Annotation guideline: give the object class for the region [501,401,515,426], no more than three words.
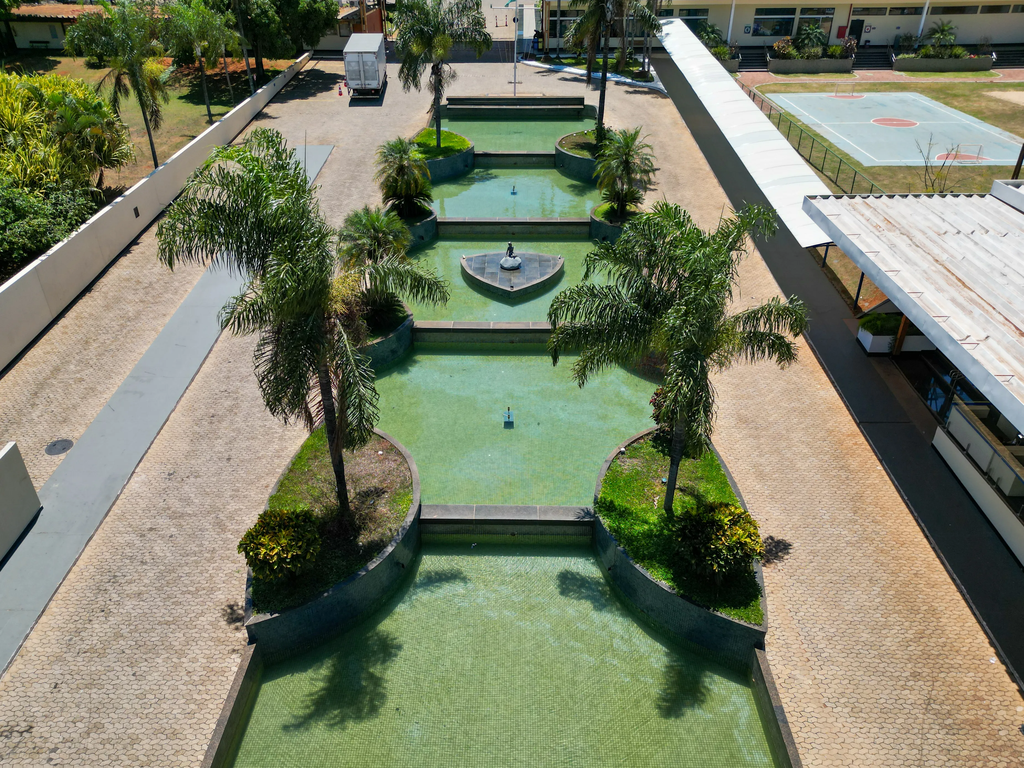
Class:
fountain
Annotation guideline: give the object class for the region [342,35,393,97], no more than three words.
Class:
truck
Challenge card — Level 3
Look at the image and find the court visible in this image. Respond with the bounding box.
[769,92,1020,166]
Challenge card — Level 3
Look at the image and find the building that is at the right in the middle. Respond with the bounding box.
[802,194,1024,463]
